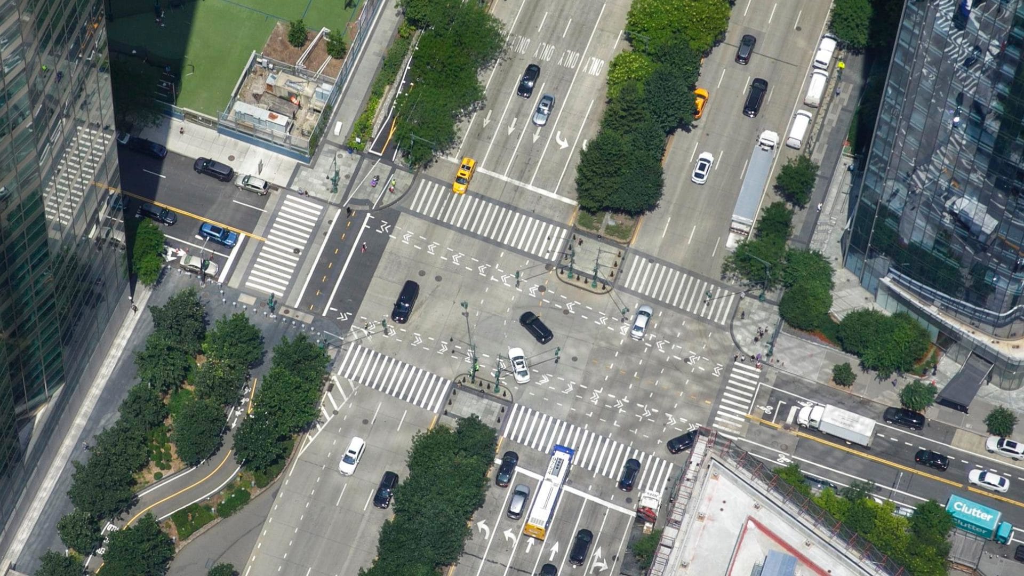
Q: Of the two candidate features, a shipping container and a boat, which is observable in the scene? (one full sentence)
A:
It is a shipping container that can be seen here.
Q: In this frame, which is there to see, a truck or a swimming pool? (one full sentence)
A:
There is a truck in the scene.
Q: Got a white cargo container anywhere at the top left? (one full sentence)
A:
Yes, at the top left there is a white cargo container.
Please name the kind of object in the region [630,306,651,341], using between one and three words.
car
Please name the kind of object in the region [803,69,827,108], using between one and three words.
vehicle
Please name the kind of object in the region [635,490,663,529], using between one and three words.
truck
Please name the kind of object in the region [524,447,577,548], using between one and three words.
bus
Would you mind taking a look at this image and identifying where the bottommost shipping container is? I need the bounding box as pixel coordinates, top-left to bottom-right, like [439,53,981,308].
[233,101,289,135]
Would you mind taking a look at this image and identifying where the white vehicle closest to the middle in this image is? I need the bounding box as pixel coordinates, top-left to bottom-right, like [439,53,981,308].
[508,349,529,385]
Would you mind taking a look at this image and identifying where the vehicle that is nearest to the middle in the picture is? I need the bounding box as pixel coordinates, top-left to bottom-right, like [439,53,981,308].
[520,312,553,345]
